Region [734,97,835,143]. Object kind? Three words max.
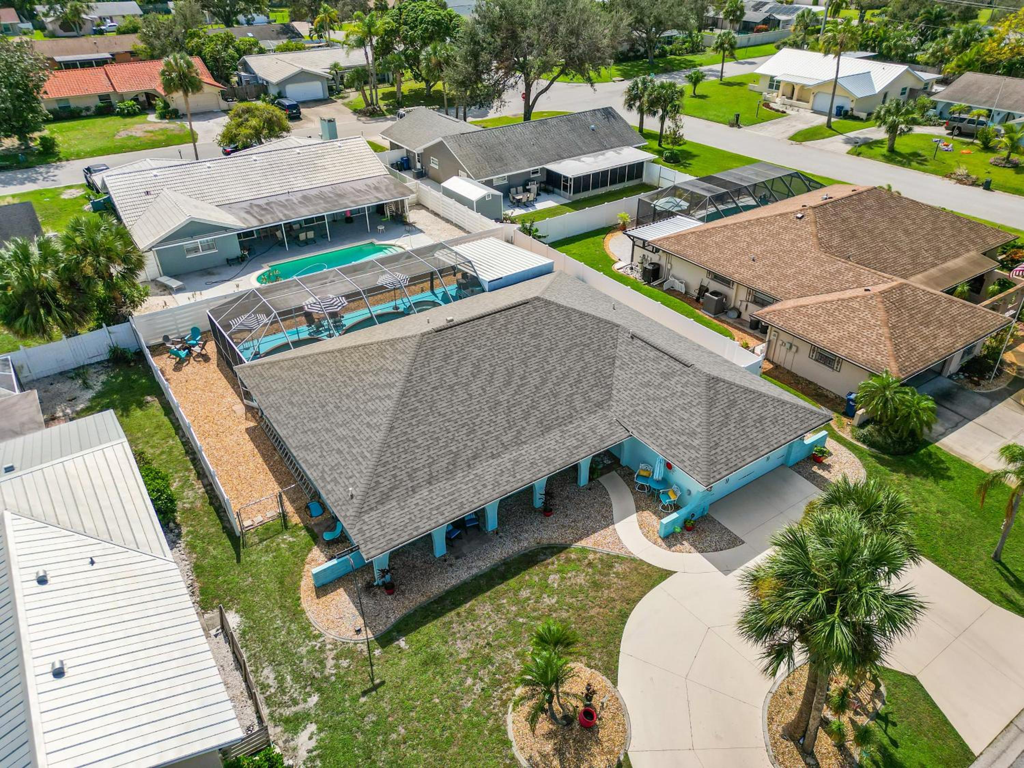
house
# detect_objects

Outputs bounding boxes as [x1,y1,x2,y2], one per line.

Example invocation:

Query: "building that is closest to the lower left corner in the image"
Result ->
[0,392,245,768]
